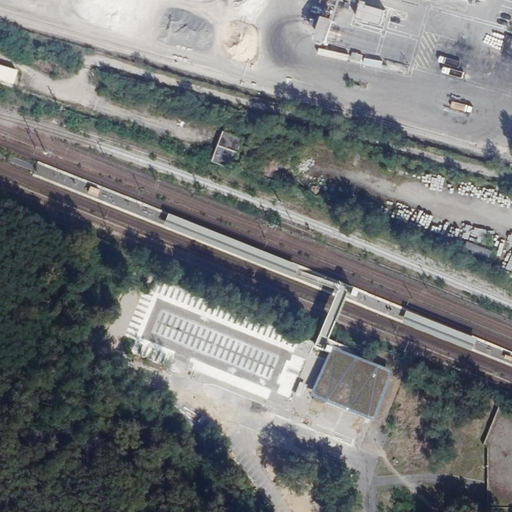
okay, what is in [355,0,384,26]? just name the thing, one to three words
building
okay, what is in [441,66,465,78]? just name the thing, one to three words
vehicle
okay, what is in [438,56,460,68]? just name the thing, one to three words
vehicle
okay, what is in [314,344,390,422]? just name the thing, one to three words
building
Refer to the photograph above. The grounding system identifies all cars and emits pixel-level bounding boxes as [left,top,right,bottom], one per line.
[496,18,508,25]
[390,17,401,22]
[500,13,512,20]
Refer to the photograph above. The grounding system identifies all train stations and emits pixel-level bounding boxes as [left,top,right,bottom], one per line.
[10,158,512,366]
